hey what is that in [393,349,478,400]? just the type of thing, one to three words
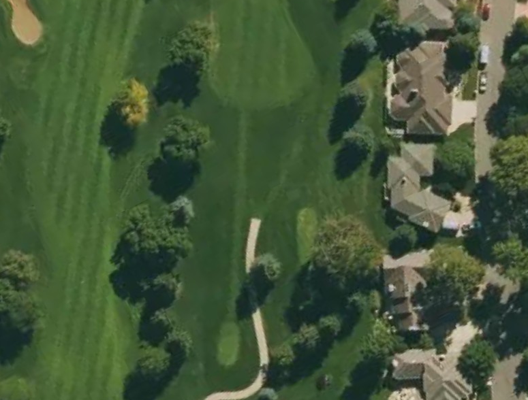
house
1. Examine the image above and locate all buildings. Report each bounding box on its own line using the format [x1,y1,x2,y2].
[396,0,457,30]
[393,349,478,400]
[386,141,456,234]
[382,252,432,333]
[390,39,455,137]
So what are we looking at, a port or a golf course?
golf course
